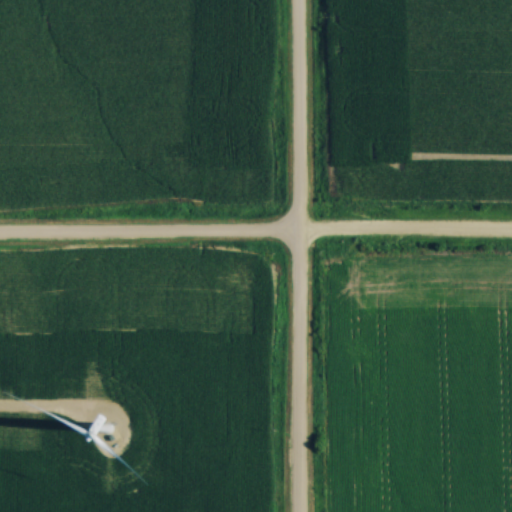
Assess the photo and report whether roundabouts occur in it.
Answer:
No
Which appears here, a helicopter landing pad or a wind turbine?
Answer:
wind turbine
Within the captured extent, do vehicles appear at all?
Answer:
No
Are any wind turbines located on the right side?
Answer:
No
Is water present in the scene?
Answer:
No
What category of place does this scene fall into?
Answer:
farmland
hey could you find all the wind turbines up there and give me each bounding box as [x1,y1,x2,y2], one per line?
[5,390,148,486]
